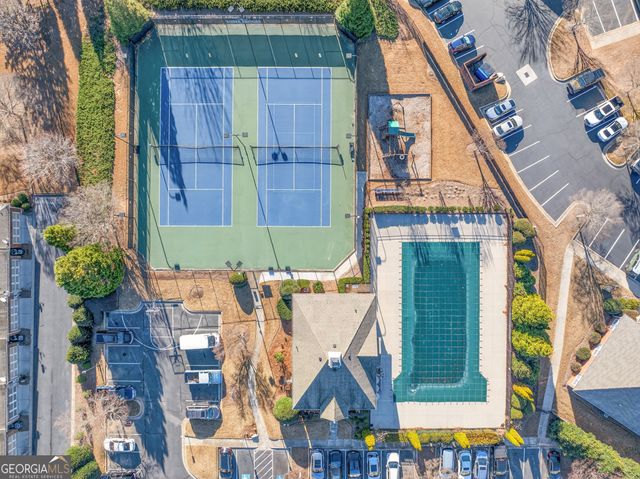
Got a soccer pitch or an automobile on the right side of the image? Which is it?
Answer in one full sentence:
What appears on the right side of the image is an automobile.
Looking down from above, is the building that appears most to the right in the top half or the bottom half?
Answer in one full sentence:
Seen from above, the building that appears most to the right lies in the bottom half of the view.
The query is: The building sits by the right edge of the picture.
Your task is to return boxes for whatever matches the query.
[563,314,640,436]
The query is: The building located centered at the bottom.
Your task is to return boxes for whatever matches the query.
[291,293,381,425]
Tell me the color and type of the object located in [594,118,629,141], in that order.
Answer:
white car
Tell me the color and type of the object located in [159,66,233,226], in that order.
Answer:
blue tennis court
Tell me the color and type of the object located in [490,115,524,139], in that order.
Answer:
white car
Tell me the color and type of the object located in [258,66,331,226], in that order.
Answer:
blue tennis court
